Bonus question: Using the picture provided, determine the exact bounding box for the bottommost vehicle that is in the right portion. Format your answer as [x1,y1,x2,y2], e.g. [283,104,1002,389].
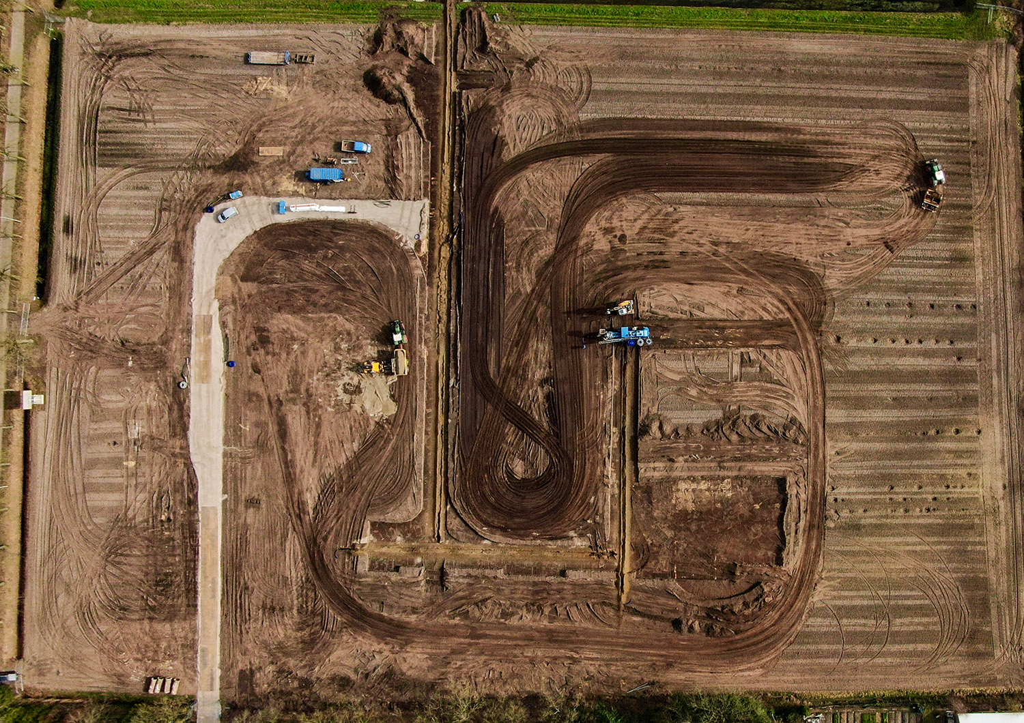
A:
[601,299,637,315]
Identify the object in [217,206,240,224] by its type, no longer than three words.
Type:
vehicle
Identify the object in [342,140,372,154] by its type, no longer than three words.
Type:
vehicle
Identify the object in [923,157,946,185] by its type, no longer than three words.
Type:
work vehicle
